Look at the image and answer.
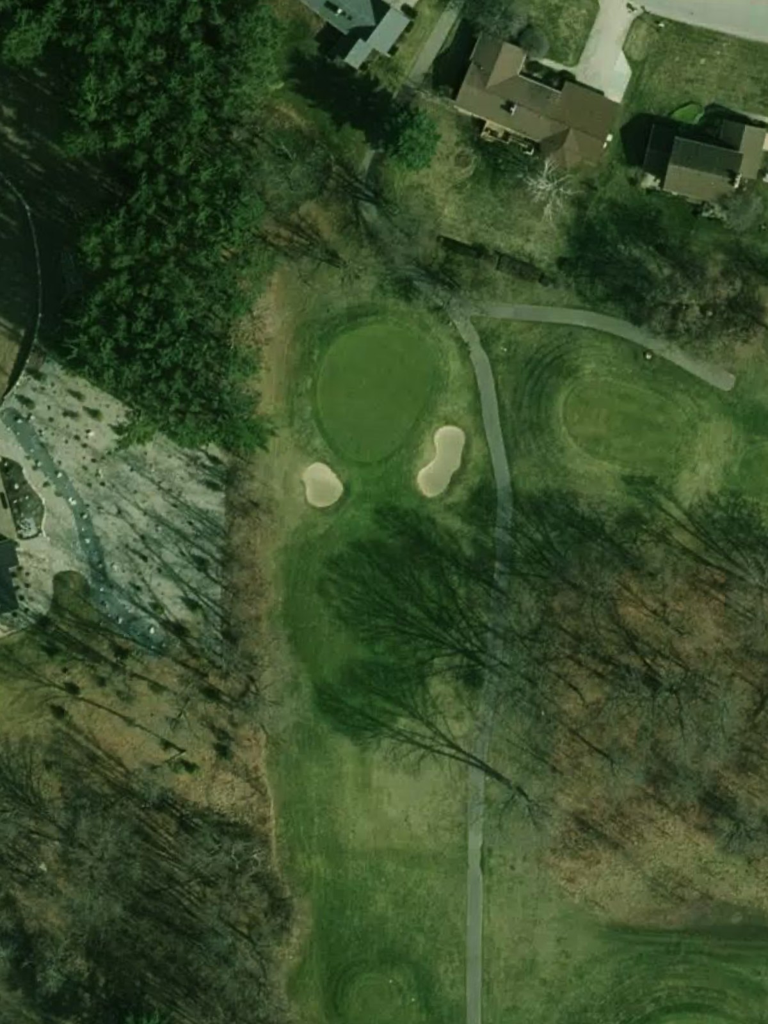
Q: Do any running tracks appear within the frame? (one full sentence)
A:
No, this view has no running track in it.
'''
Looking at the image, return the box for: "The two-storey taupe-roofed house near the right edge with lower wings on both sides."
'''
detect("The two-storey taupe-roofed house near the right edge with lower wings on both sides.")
[640,120,768,208]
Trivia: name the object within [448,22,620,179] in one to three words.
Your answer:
house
